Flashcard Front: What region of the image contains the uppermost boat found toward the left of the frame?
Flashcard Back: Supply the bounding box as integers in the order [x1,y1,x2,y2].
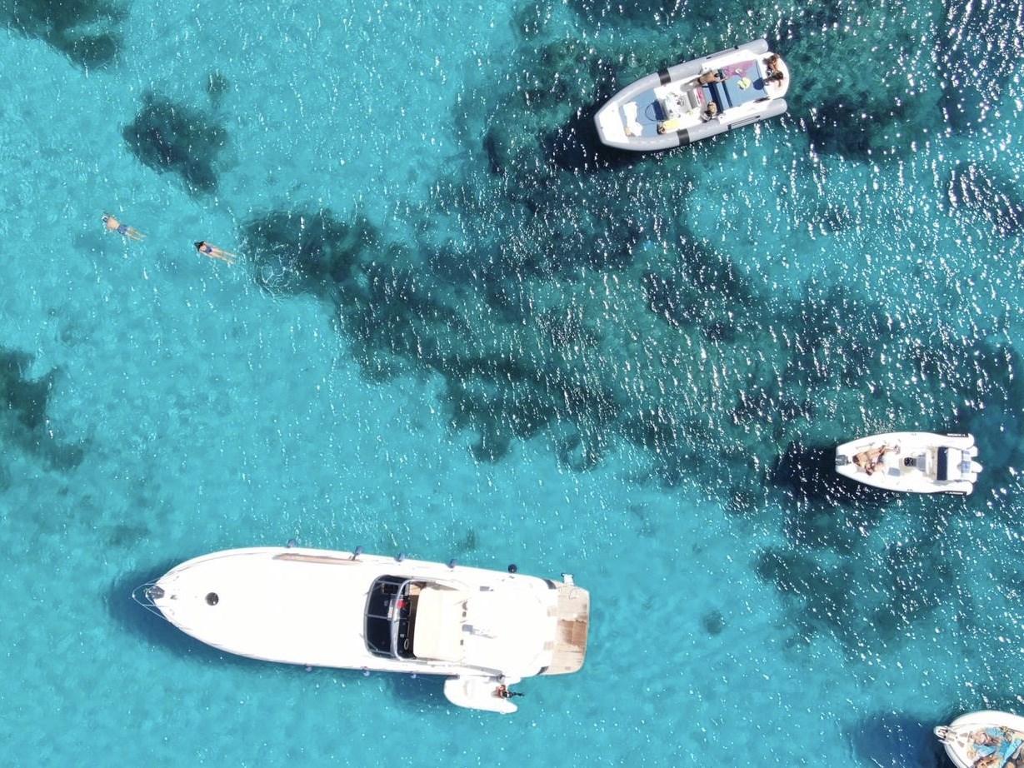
[132,547,590,682]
